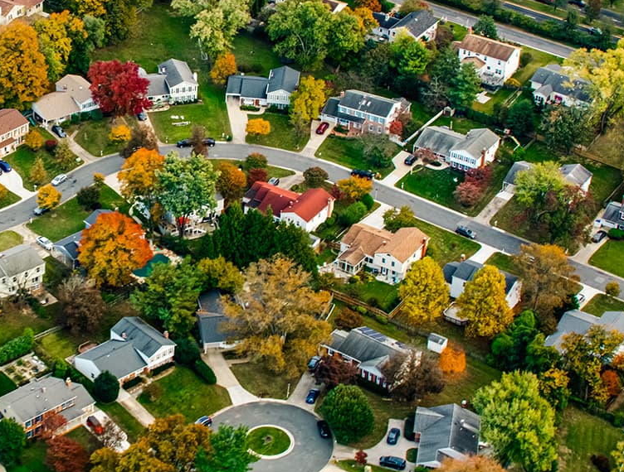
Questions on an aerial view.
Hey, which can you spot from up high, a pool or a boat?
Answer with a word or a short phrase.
pool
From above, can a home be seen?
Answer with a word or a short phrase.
Yes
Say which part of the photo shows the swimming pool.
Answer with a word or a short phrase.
left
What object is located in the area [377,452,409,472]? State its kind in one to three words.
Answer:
car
